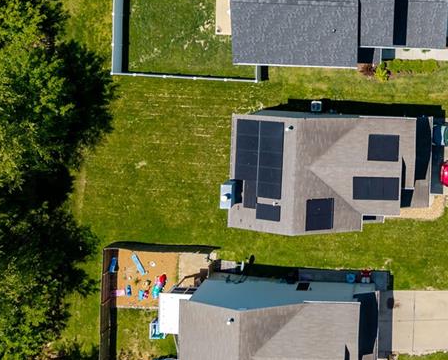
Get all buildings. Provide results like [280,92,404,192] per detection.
[228,0,448,72]
[177,282,380,360]
[219,109,434,237]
